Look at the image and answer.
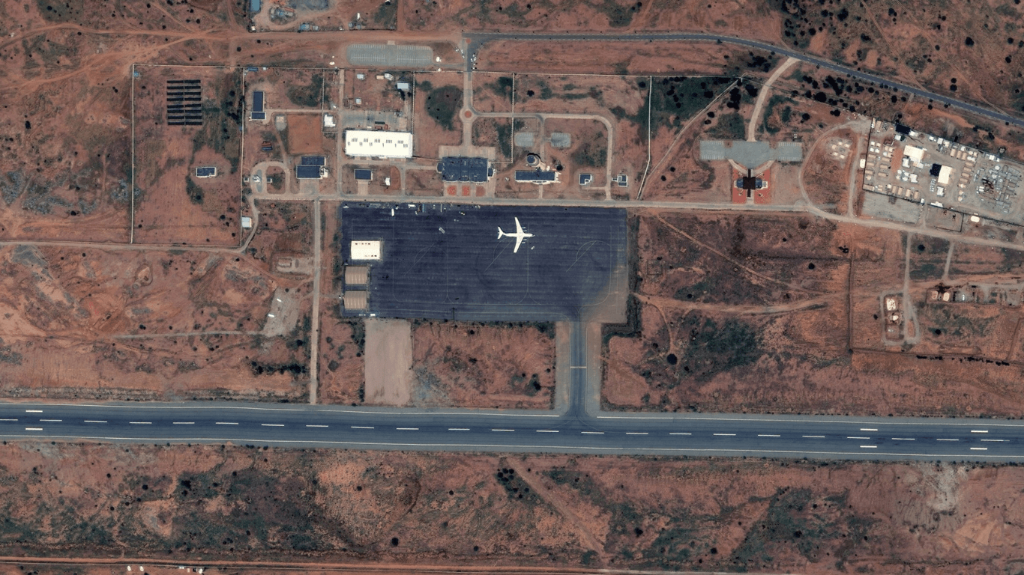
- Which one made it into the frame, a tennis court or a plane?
plane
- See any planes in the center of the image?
Yes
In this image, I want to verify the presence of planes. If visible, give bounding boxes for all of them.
[498,216,535,252]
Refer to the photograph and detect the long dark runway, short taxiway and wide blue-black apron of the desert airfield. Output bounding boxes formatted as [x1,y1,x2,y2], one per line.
[0,203,1024,463]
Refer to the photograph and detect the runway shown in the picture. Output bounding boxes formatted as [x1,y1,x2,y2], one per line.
[0,401,1024,463]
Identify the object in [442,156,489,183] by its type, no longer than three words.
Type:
building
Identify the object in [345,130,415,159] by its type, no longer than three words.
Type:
hangar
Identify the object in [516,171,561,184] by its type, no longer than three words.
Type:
building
